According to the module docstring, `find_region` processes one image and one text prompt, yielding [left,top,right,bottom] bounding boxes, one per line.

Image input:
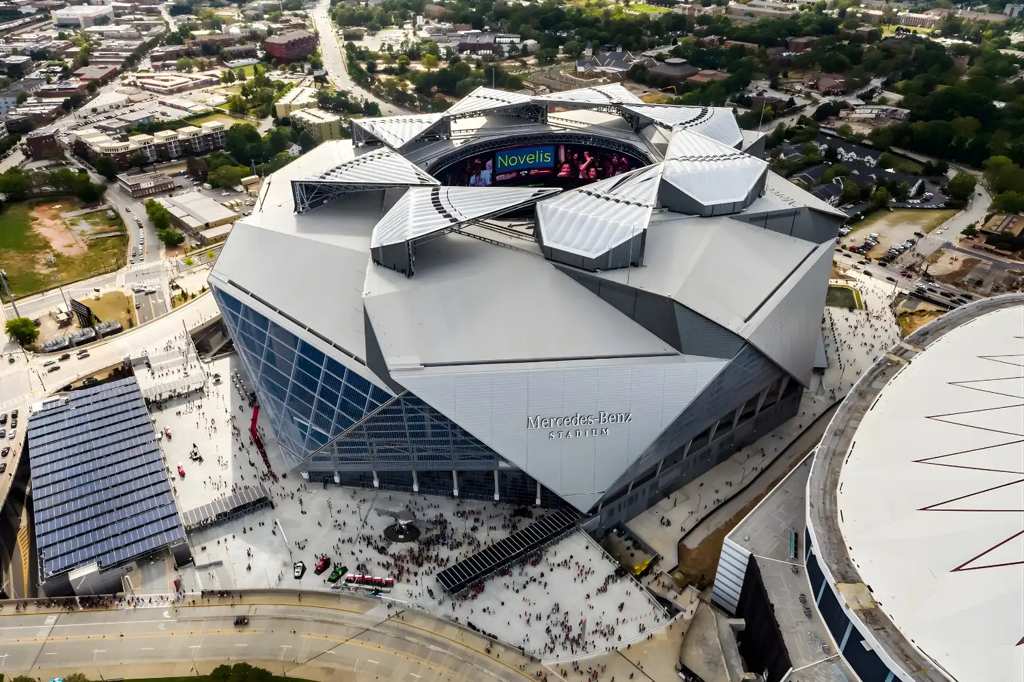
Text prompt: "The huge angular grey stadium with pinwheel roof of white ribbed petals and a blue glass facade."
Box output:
[206,82,848,539]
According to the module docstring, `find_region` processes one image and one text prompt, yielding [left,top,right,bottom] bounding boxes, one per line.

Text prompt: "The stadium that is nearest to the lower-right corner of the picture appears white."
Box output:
[714,293,1024,682]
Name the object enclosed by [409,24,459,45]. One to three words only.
building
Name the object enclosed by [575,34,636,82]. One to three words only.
building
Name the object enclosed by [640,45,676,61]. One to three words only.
shed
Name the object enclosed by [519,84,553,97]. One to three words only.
house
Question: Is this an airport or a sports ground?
sports ground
